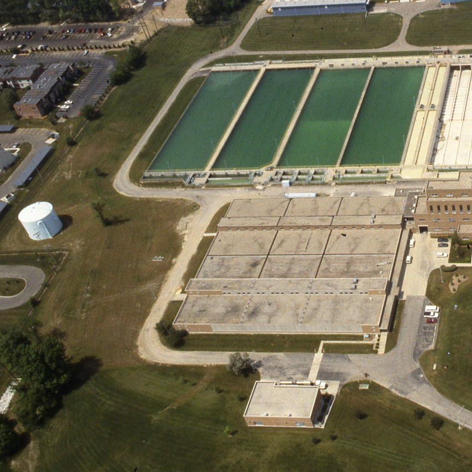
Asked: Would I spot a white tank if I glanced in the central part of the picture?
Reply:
No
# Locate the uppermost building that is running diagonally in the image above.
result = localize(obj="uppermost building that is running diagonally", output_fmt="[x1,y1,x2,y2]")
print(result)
[15,59,82,118]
